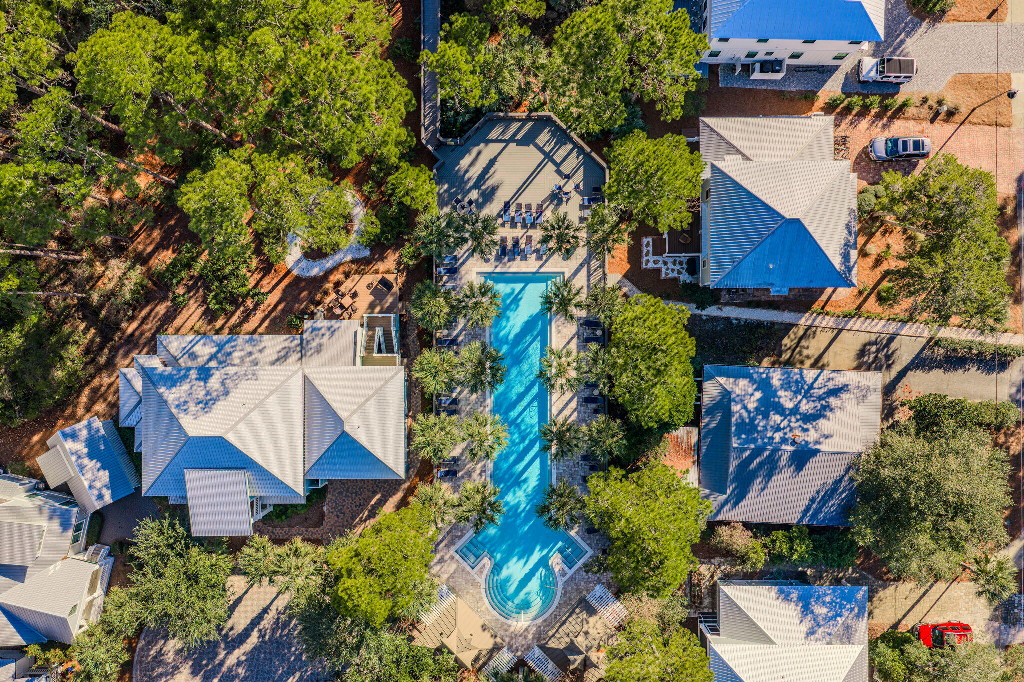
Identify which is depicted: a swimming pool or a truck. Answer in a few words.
swimming pool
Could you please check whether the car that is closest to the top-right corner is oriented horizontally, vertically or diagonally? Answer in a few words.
horizontally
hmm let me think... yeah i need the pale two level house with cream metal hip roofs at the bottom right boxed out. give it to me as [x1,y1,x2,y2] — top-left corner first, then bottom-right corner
[689,567,870,682]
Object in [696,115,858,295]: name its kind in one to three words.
house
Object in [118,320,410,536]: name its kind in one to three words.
building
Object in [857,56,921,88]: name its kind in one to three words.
car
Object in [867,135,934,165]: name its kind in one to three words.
car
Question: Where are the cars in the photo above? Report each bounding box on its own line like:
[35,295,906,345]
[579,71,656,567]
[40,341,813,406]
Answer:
[857,56,921,88]
[913,615,979,649]
[867,135,934,165]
